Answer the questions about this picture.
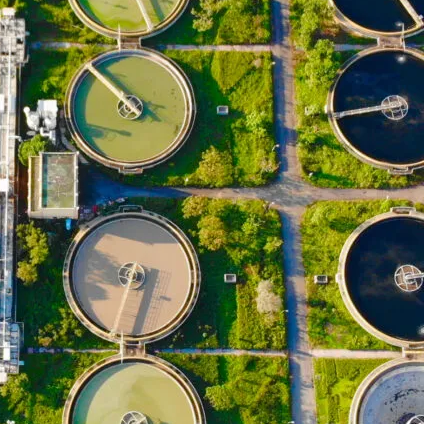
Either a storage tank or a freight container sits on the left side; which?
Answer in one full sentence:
The feature located on the left side is a storage tank.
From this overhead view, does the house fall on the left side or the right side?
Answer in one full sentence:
The house sits on the left side.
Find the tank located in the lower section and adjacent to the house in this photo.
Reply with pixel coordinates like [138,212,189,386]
[63,201,200,345]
